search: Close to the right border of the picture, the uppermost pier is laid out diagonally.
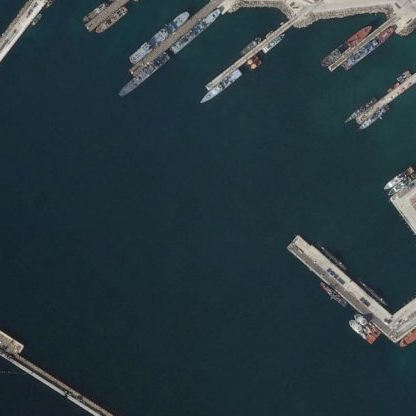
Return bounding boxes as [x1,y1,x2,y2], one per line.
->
[327,14,400,72]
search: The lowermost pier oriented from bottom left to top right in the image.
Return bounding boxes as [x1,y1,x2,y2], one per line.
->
[355,74,416,125]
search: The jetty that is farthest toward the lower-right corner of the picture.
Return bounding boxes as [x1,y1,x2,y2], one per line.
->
[287,236,416,343]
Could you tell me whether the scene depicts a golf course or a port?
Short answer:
port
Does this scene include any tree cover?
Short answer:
No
